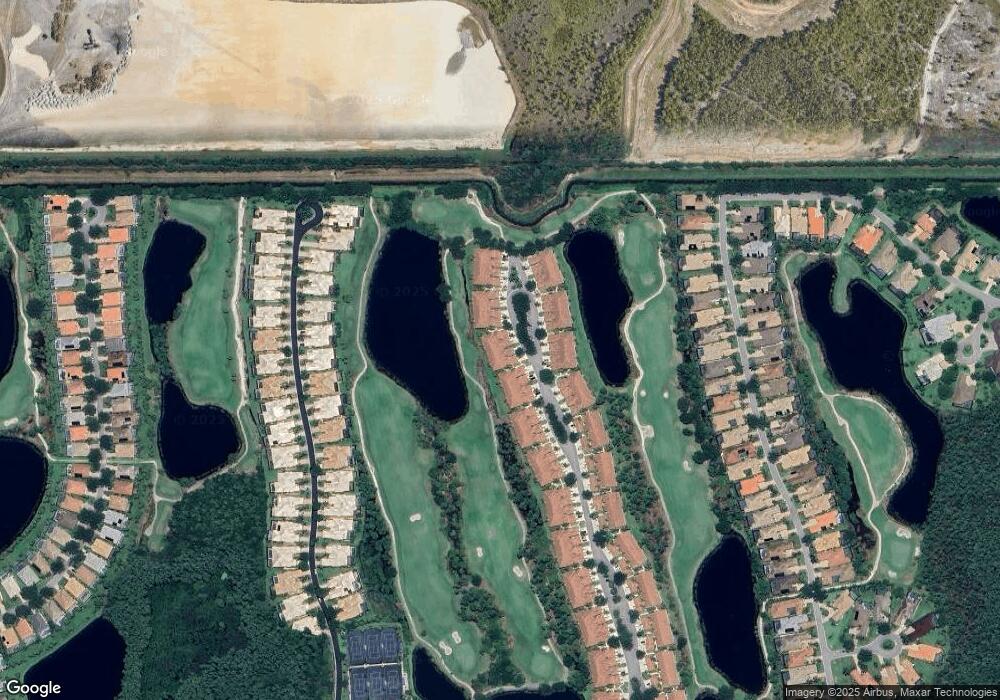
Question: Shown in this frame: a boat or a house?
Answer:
house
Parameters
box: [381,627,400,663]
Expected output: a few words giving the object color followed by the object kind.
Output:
blue tennis court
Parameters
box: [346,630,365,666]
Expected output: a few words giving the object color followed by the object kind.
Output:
blue tennis court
